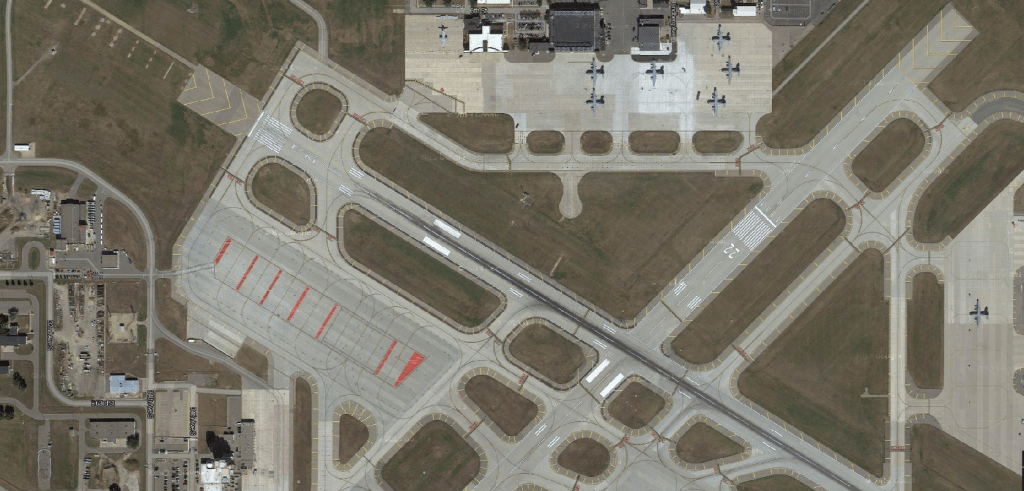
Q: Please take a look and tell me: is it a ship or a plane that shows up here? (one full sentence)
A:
Visible in the photo is a plane.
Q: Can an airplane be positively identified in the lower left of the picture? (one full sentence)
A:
No, I see no airplane in the lower left of the picture.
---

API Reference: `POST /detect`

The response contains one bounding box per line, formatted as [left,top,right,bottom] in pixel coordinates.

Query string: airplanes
[713,25,732,52]
[586,88,605,115]
[438,25,449,47]
[586,58,605,85]
[971,299,990,326]
[708,87,727,114]
[646,58,666,85]
[721,56,741,83]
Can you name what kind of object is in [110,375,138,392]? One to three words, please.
building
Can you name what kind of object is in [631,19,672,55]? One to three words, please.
building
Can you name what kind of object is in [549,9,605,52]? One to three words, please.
hangar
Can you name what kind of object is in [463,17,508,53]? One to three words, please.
hangar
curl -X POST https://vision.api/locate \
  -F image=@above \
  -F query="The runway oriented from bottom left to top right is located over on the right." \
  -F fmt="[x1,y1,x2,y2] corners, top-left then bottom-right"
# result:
[471,65,917,491]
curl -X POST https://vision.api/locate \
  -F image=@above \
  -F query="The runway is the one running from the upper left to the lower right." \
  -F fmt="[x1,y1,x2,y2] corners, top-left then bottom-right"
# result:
[247,110,885,491]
